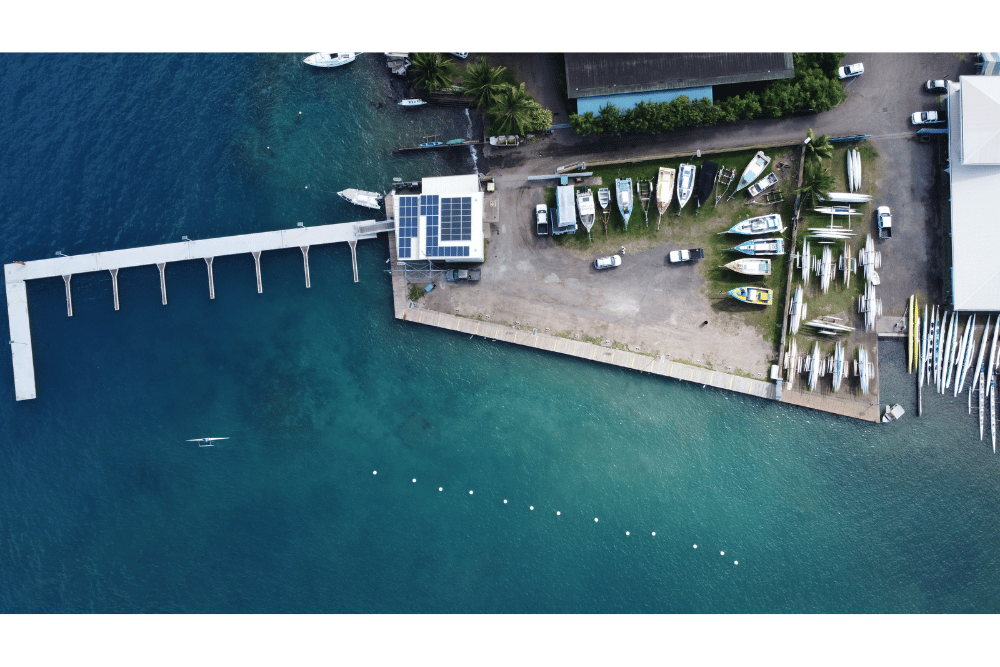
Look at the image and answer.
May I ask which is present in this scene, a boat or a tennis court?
boat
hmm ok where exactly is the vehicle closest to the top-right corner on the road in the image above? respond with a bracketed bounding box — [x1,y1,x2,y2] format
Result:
[926,77,953,92]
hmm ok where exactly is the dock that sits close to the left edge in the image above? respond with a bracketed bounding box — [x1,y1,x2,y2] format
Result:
[5,220,377,400]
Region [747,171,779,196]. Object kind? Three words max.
truck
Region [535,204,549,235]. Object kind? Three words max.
vehicle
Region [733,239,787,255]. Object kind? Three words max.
boat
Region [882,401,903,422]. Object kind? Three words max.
boat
